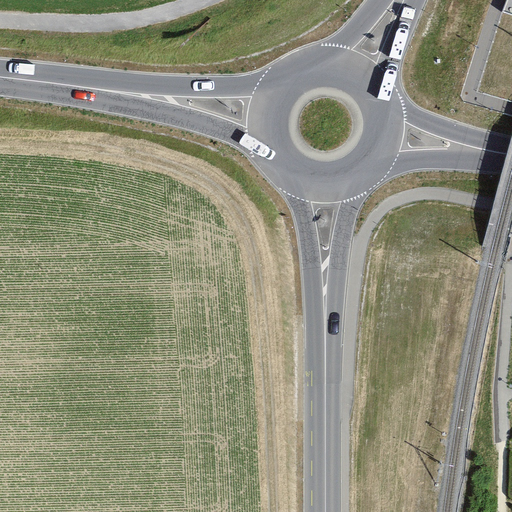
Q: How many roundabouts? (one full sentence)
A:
The count comes to 1 roundabout.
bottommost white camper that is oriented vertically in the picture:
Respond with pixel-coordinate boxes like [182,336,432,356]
[378,62,399,101]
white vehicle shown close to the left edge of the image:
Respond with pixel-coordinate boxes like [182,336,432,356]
[8,62,36,74]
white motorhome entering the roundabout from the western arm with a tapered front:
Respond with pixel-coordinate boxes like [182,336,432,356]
[240,133,276,160]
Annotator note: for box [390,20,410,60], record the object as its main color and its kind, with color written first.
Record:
white camper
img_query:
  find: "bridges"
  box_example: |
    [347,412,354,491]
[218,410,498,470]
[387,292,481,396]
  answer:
[482,130,512,248]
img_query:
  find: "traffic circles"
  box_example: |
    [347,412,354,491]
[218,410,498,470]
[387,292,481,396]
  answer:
[246,44,406,202]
